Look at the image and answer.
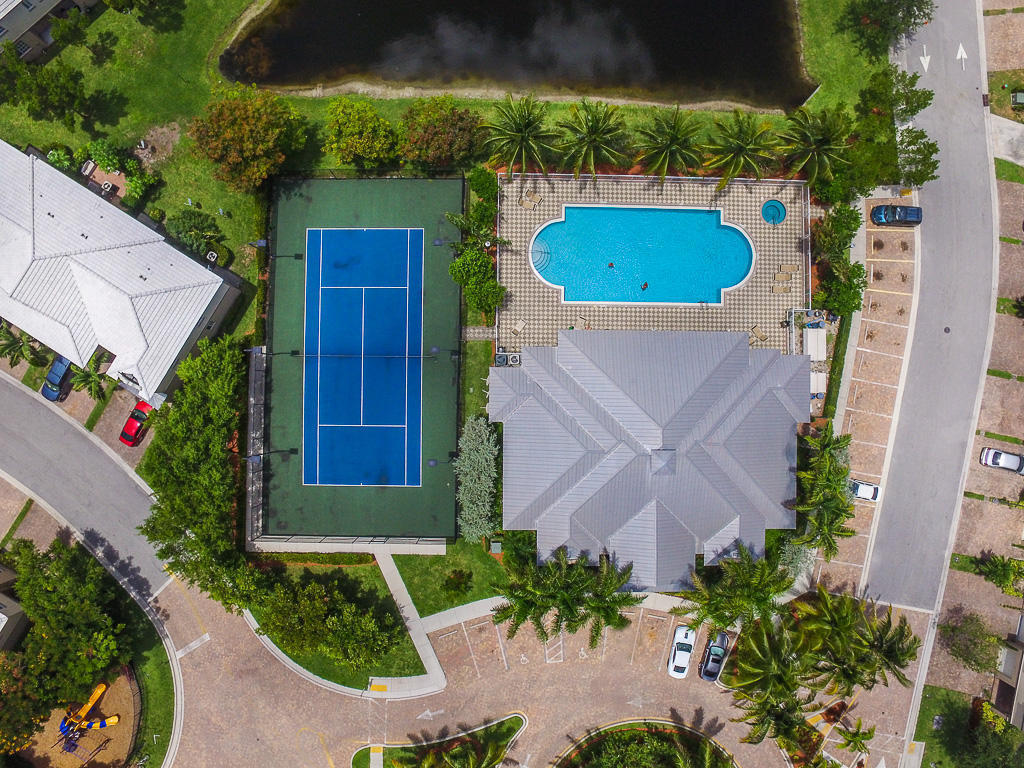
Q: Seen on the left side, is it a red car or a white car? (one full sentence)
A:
There is a red car on the left side.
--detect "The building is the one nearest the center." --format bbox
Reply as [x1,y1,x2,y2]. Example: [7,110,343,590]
[480,329,811,595]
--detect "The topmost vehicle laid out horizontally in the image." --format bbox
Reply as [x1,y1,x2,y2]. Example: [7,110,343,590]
[868,202,924,228]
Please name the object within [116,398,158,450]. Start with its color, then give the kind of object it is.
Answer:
red car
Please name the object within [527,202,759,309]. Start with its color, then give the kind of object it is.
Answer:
blue swimming pool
